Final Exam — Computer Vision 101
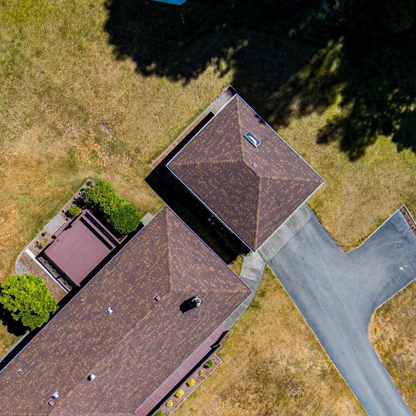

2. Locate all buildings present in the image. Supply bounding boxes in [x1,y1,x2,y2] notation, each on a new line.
[165,94,324,253]
[0,205,254,416]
